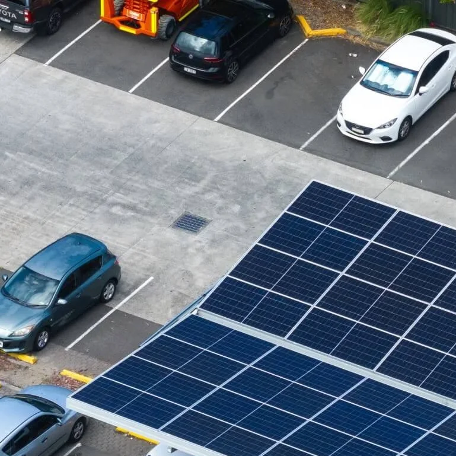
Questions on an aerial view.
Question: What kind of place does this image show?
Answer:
solar farm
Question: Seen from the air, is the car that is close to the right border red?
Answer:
No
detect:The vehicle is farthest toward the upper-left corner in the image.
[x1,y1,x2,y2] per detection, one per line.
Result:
[0,0,73,36]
